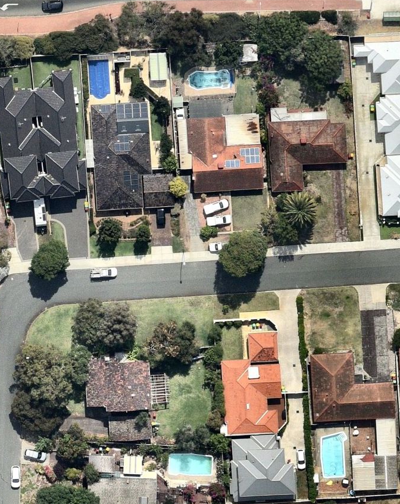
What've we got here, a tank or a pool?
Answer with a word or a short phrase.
pool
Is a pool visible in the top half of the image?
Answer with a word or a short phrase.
Yes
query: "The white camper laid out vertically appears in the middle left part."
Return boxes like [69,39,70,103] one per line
[35,200,47,232]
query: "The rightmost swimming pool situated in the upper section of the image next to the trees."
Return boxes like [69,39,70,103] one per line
[189,69,234,91]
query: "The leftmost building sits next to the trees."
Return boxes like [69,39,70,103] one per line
[0,70,87,203]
